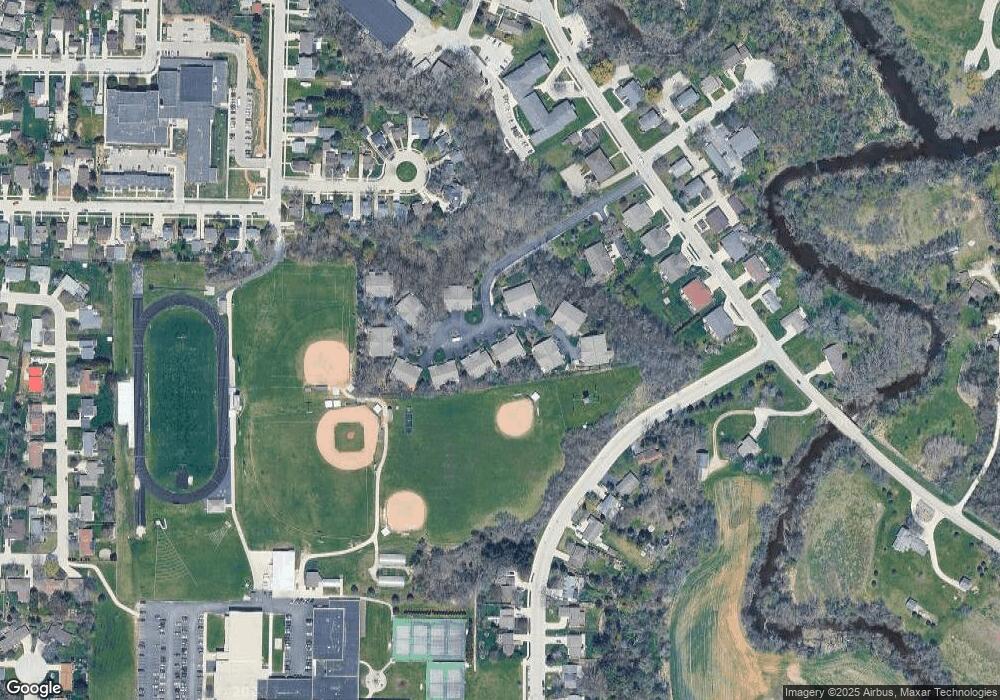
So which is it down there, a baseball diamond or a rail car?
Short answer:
baseball diamond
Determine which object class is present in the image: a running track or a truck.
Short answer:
running track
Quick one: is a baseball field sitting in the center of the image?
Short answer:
Yes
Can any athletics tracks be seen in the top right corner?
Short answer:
No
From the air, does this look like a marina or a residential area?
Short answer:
residential area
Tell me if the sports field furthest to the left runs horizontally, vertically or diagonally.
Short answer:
vertically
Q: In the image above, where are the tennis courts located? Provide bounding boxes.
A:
[397,626,410,657]
[430,669,443,700]
[431,625,445,658]
[449,624,464,659]
[414,626,427,657]
[447,669,460,700]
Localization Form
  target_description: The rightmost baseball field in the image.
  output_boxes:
[496,398,533,437]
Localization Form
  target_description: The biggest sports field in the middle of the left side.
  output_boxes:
[145,305,217,493]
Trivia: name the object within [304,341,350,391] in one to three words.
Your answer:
baseball field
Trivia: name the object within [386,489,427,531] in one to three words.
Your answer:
baseball field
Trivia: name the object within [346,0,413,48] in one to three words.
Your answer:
building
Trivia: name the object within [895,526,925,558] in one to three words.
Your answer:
house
